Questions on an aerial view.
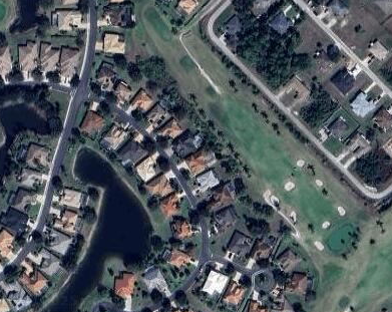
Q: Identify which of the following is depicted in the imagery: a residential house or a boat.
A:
residential house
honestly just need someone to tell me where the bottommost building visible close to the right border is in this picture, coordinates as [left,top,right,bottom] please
[349,131,374,157]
